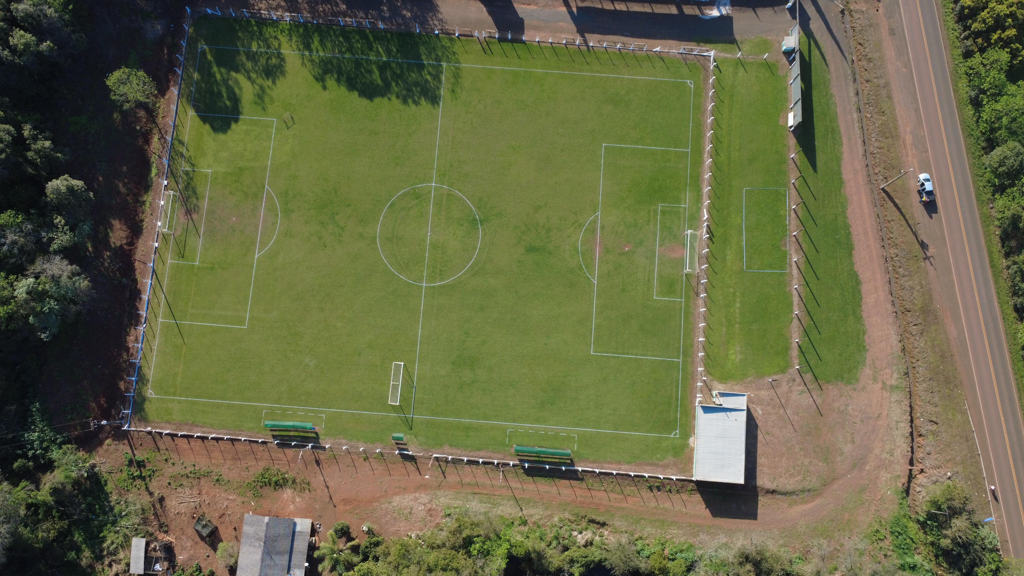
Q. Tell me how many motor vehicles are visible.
1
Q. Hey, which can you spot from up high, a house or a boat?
house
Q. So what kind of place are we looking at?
sports ground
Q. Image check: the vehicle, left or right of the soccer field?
to the right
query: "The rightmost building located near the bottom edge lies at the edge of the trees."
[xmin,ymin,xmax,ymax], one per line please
[237,514,312,576]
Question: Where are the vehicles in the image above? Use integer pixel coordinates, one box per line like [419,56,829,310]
[916,174,936,202]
